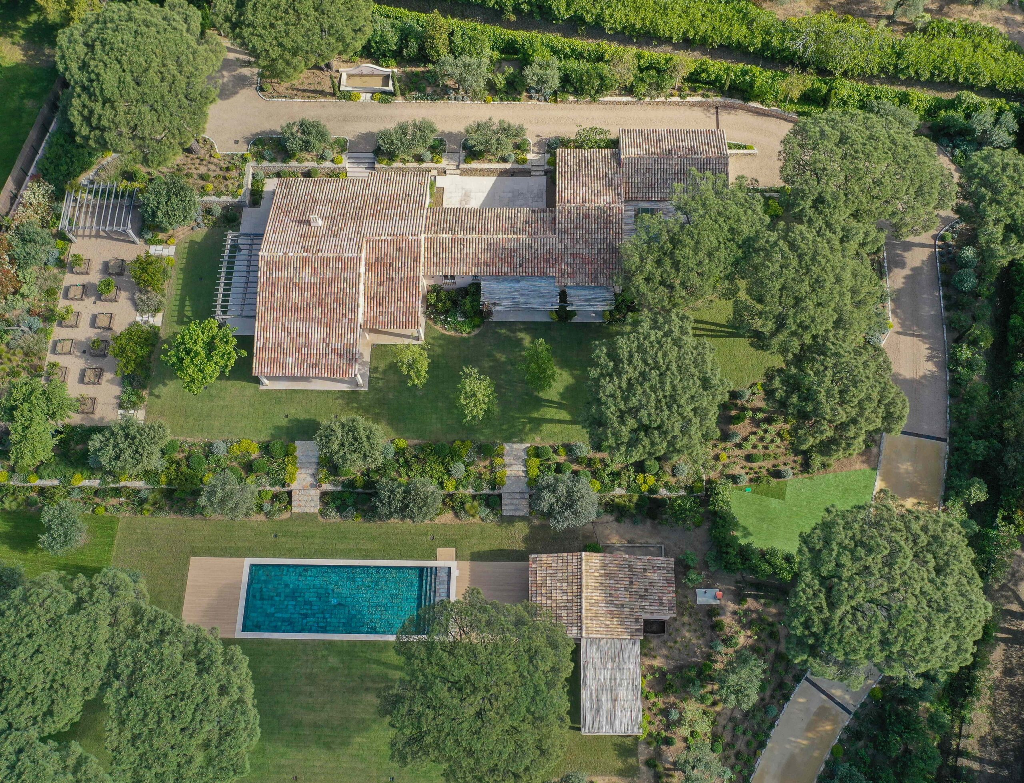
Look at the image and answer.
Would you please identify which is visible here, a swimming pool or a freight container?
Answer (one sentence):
The image shows a swimming pool.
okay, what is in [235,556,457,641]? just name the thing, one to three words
swimming pool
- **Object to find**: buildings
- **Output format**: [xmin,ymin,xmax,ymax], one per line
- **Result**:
[252,126,731,390]
[527,551,679,640]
